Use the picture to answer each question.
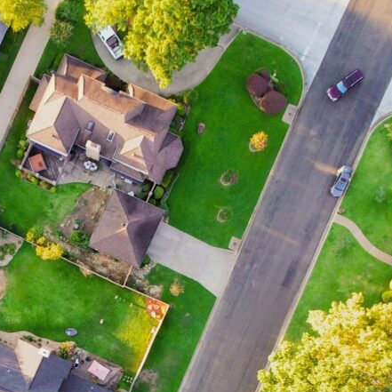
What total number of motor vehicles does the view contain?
3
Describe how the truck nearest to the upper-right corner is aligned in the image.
on a diagonal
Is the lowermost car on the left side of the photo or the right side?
right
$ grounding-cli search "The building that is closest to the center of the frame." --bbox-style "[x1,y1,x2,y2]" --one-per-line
[88,188,166,268]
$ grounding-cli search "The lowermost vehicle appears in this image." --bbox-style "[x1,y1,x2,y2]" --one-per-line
[329,164,354,199]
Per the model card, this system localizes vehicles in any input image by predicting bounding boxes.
[96,24,125,63]
[329,164,354,199]
[326,68,365,101]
